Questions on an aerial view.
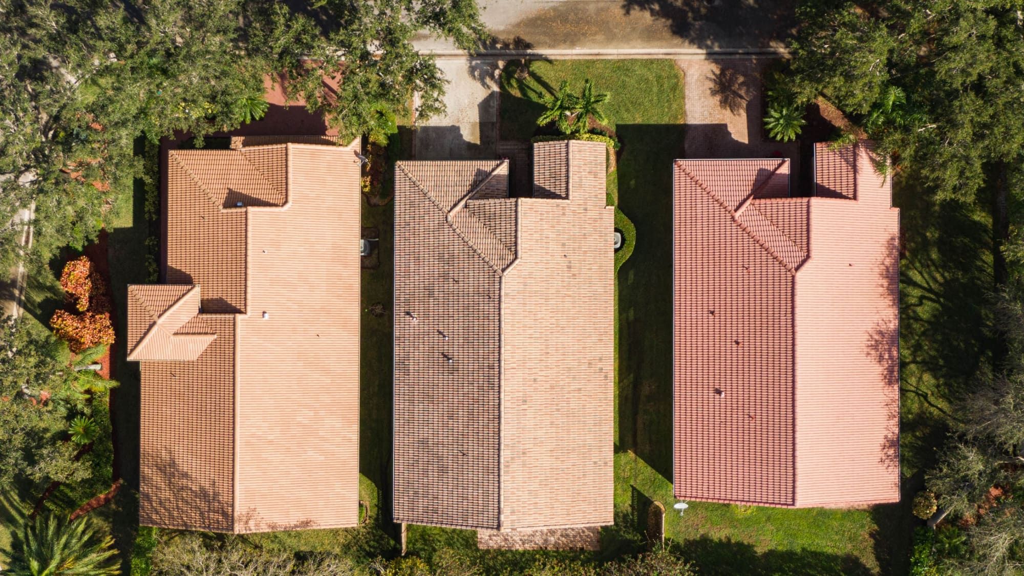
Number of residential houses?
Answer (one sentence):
The count of residential houses comes to 3.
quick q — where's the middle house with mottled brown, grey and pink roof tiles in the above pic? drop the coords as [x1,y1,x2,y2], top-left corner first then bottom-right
[391,139,615,535]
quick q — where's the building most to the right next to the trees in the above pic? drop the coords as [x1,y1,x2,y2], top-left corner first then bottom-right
[671,138,902,511]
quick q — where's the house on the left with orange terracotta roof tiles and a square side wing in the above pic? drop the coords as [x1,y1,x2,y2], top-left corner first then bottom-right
[124,134,362,538]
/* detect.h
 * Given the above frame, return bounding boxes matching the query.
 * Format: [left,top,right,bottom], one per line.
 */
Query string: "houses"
[124,134,362,538]
[671,138,902,511]
[391,139,615,535]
